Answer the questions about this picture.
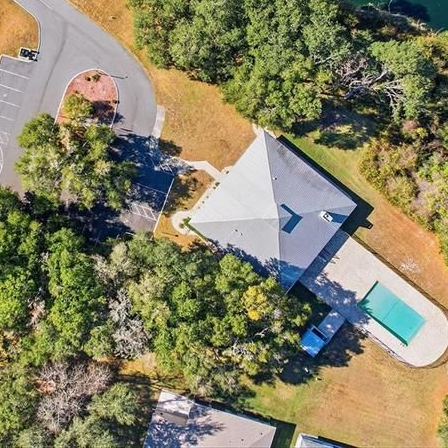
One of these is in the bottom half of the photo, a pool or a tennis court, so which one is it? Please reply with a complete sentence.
There is a pool in the bottom half of the photo.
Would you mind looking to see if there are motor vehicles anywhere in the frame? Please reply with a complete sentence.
No, the picture doesn't show any motor vehicle.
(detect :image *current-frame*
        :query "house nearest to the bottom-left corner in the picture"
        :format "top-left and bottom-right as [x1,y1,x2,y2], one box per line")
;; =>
[142,386,276,448]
